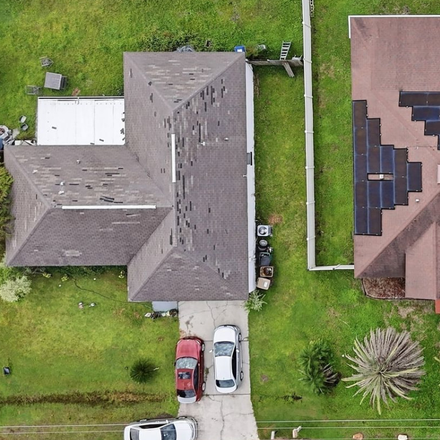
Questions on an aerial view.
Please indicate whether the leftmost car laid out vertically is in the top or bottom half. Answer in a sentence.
It is in the bottom half that the leftmost car laid out vertically appears.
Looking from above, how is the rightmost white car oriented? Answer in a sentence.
In this picture, the rightmost white car lies up and down.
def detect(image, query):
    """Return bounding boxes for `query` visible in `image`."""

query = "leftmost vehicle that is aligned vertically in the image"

[170,335,203,403]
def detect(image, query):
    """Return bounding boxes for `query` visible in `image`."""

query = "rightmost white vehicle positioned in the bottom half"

[209,324,242,394]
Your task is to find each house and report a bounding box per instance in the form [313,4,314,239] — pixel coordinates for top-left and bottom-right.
[3,51,257,303]
[348,13,440,301]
